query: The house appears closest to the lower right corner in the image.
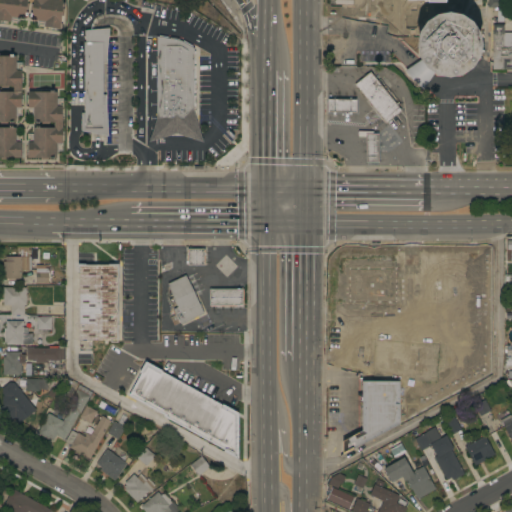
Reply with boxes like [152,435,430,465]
[466,436,494,470]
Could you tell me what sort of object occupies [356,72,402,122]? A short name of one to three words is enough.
building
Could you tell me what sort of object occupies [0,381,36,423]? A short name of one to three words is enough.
house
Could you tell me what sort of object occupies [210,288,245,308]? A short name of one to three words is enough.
building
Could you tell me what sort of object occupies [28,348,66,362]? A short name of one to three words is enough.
house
